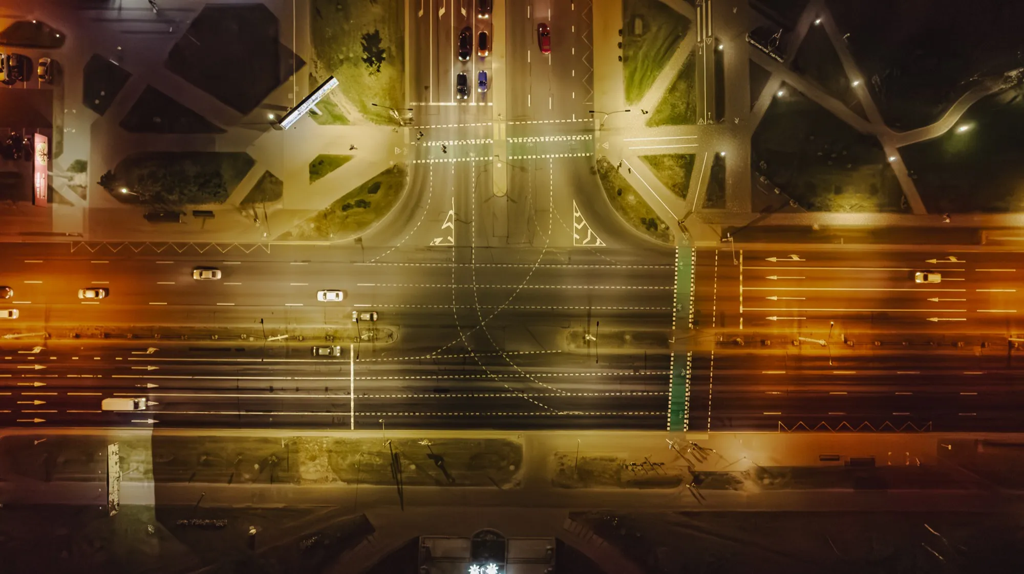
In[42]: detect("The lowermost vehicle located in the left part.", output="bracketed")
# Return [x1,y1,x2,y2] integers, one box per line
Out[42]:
[99,397,146,412]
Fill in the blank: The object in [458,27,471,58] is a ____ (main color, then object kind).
black vehicle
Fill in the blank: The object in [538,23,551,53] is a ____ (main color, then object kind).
red vehicle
